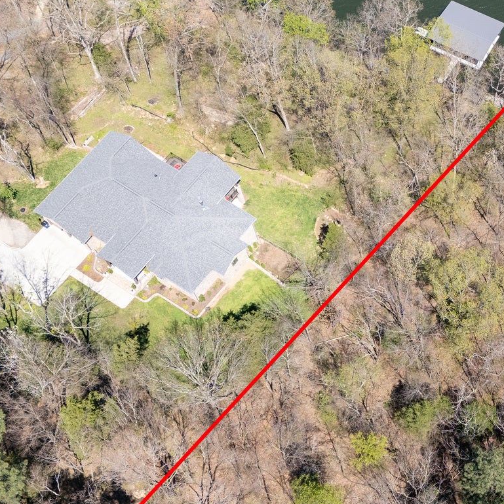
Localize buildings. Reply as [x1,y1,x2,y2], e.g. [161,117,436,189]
[33,132,258,295]
[427,1,504,87]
